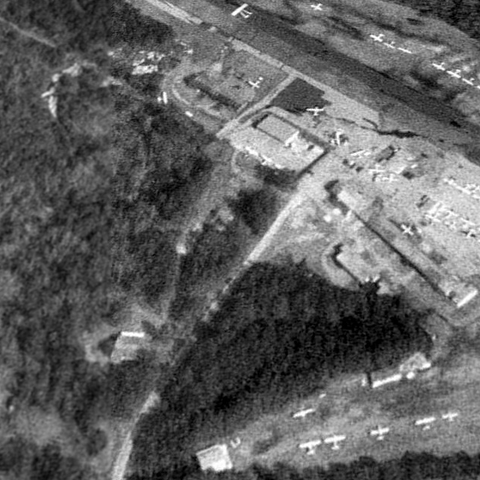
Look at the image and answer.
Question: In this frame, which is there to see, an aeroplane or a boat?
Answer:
aeroplane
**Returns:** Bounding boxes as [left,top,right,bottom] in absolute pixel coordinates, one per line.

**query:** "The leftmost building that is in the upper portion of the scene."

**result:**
[255,115,300,147]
